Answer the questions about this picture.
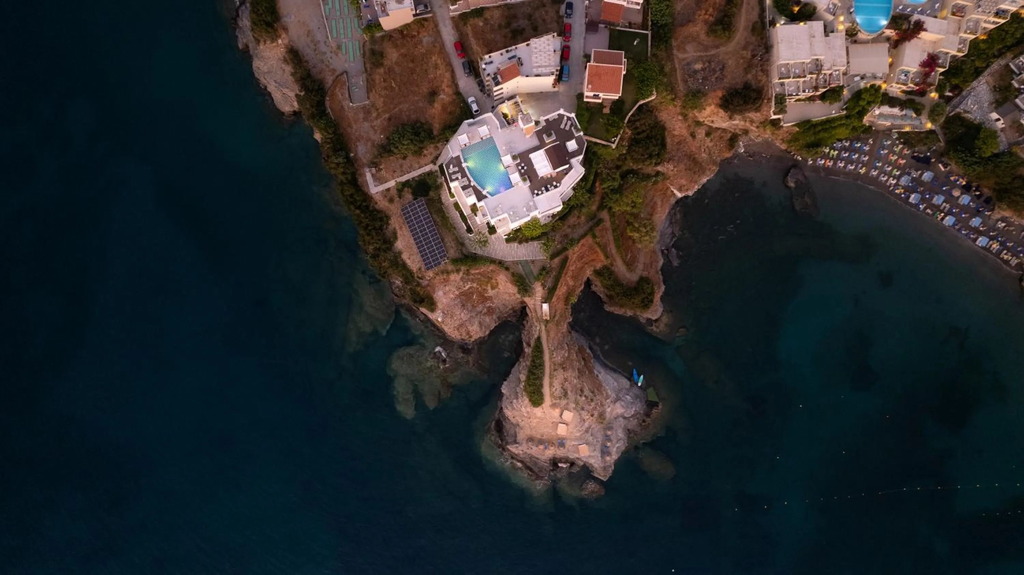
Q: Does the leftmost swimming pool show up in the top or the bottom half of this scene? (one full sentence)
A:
It is in the top half that the leftmost swimming pool appears.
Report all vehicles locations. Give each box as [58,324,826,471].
[467,95,481,115]
[986,108,1008,131]
[562,43,572,62]
[562,21,572,43]
[561,62,570,82]
[460,59,474,78]
[453,39,466,59]
[564,0,574,20]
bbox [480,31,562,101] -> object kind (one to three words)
house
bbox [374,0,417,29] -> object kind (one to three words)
house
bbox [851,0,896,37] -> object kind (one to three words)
swimming pool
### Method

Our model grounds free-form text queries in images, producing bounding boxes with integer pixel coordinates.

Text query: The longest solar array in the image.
[401,197,450,271]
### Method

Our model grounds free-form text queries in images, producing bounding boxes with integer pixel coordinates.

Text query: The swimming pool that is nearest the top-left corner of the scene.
[461,136,513,199]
